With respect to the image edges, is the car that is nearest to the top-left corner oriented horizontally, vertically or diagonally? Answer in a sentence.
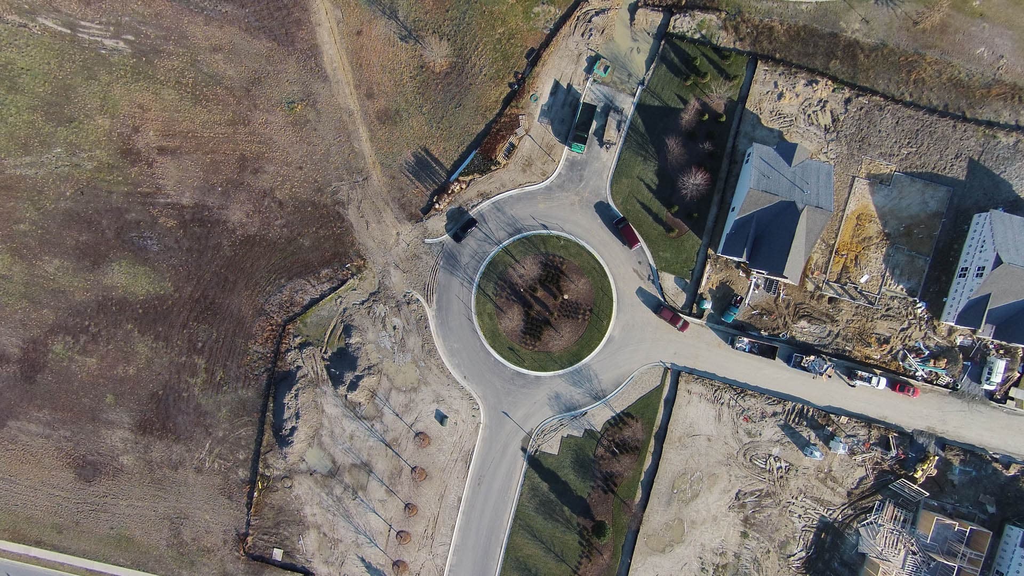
From this overhead view, the car that is nearest to the top-left corner appears to run diagonally.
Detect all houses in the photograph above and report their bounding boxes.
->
[940,205,1024,357]
[991,525,1024,576]
[715,137,835,290]
[850,499,993,576]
